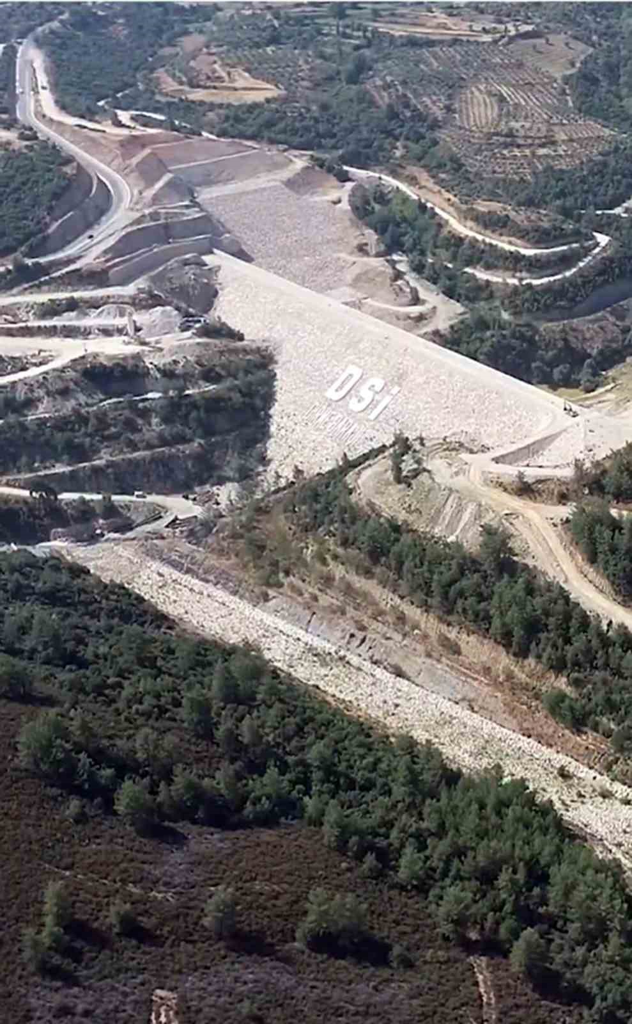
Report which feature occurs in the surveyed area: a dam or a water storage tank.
dam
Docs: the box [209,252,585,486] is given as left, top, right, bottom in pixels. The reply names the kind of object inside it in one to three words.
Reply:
dam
